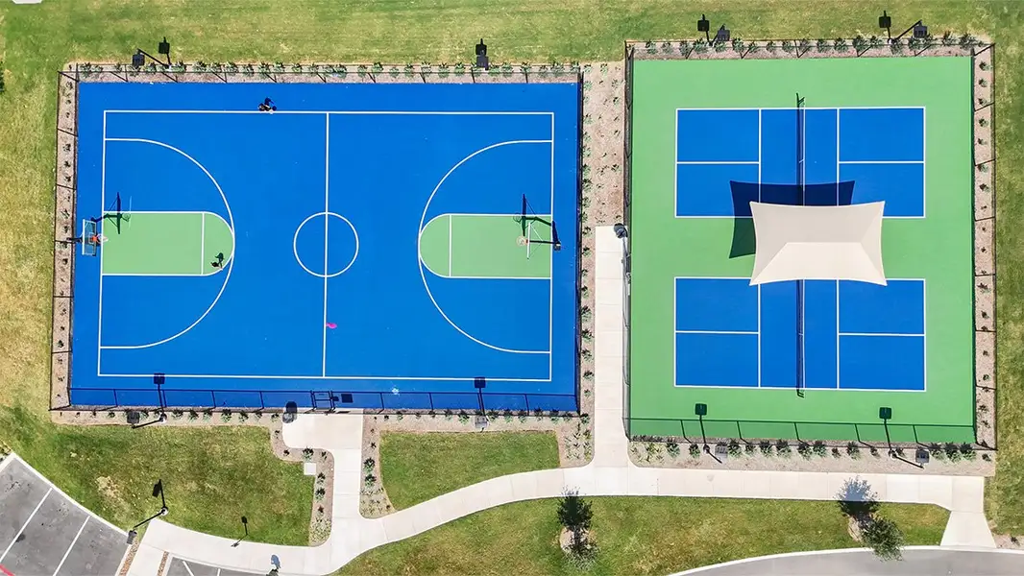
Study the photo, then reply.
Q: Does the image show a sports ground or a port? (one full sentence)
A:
The area seen from above is a sports ground.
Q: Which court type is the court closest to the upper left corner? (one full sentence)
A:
It looks like the court closest to the upper left corner is a basketball court.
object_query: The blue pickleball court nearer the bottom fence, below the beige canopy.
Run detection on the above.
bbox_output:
[674,277,925,391]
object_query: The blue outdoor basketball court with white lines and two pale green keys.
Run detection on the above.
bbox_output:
[72,83,580,412]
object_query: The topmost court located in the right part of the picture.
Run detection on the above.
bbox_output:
[675,108,926,218]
